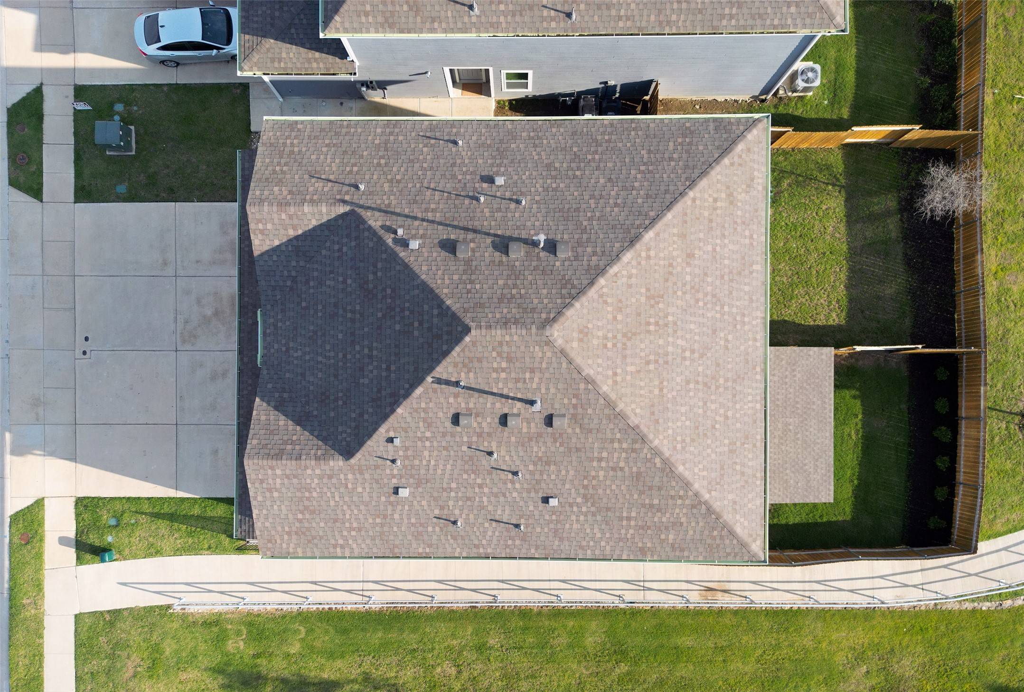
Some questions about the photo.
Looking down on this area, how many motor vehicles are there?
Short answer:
1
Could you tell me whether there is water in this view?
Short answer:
No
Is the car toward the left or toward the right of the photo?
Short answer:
left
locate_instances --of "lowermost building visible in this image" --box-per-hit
[234,114,834,565]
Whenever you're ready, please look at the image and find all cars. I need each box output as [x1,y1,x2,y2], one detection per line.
[132,2,237,66]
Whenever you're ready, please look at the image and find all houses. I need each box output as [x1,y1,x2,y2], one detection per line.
[234,114,834,565]
[237,0,849,101]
